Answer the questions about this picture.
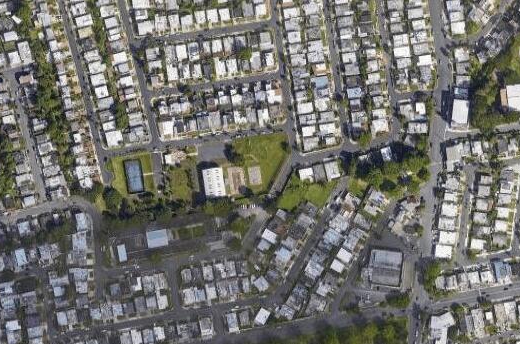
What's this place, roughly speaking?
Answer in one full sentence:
What you see here is a residential area.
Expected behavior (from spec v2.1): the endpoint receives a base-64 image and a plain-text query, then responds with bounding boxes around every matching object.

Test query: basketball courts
[249,166,262,185]
[123,158,145,194]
